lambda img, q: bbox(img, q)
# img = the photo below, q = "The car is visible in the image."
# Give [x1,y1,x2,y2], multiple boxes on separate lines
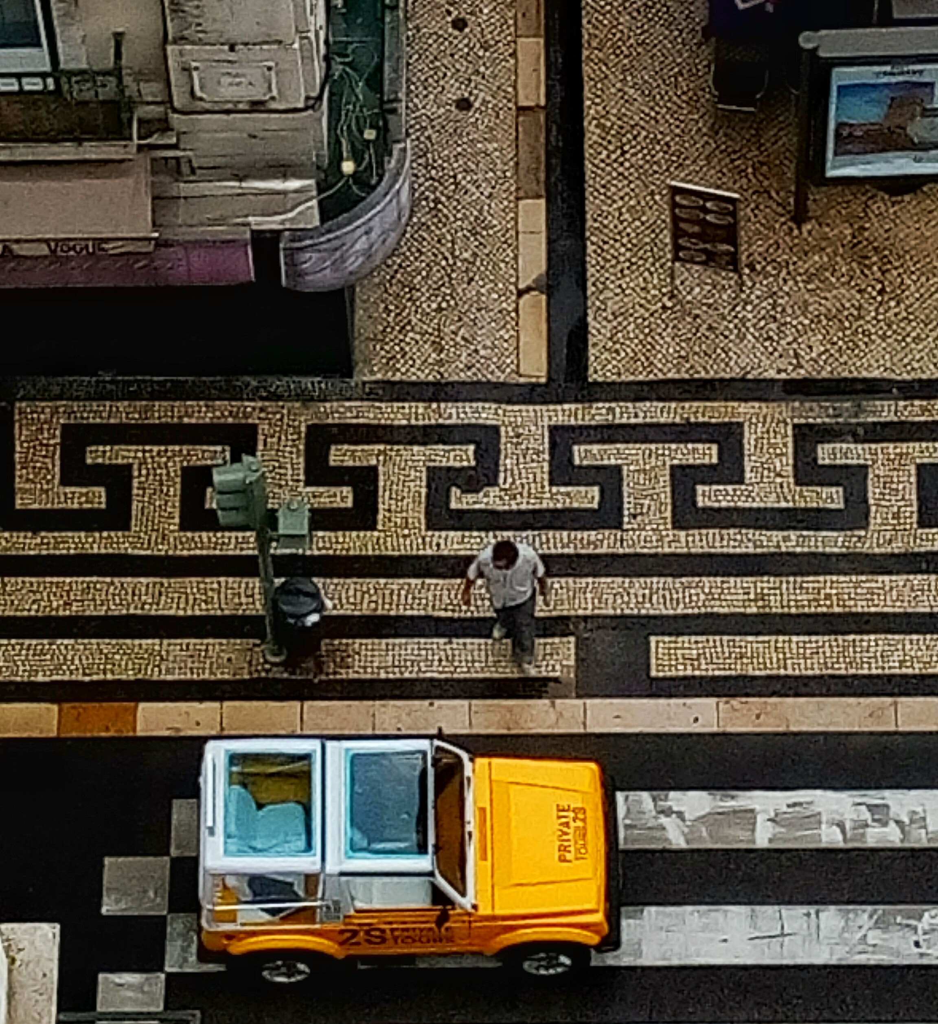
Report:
[193,729,620,977]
